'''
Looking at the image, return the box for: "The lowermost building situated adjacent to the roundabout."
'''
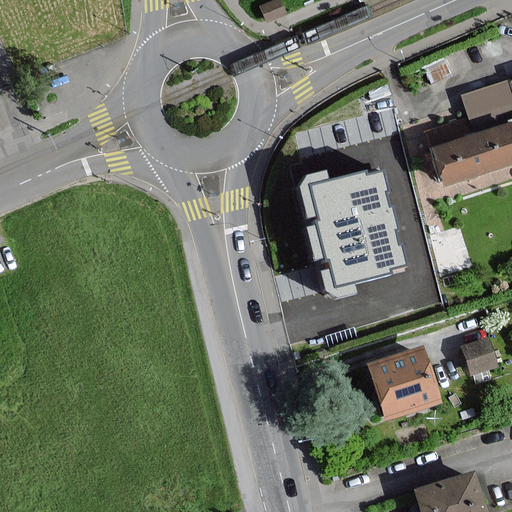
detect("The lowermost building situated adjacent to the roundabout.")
[300,169,408,301]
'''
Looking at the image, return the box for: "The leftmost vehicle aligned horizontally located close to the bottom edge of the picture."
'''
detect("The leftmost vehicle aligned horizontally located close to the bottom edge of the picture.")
[344,475,370,488]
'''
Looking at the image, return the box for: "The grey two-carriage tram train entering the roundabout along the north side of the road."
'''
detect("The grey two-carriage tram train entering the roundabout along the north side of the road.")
[231,7,372,76]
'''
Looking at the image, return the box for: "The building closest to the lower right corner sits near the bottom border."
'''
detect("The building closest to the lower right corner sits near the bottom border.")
[414,471,488,512]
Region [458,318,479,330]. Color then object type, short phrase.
white vehicle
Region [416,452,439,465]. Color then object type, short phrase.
white vehicle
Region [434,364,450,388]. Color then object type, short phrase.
white car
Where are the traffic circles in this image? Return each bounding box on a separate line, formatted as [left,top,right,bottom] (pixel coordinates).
[122,20,278,192]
